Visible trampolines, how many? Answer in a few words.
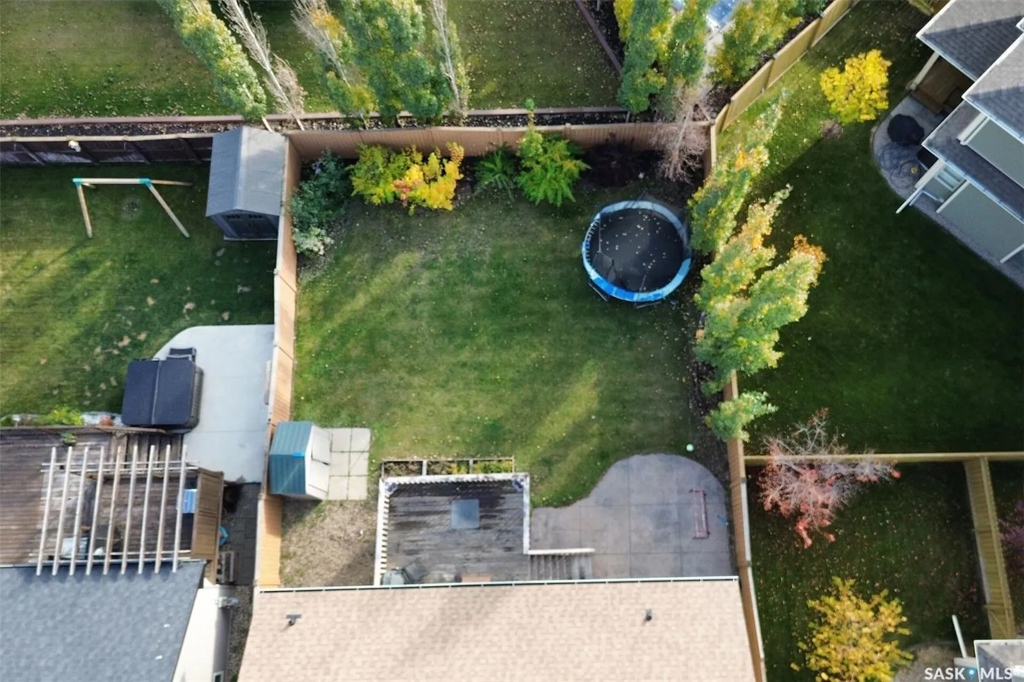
one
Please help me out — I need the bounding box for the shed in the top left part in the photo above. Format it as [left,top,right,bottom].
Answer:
[200,124,285,241]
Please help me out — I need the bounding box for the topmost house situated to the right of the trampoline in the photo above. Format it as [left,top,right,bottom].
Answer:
[895,0,1024,279]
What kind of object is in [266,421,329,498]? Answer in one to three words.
shed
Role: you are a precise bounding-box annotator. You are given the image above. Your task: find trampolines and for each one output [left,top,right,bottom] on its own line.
[579,186,693,312]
